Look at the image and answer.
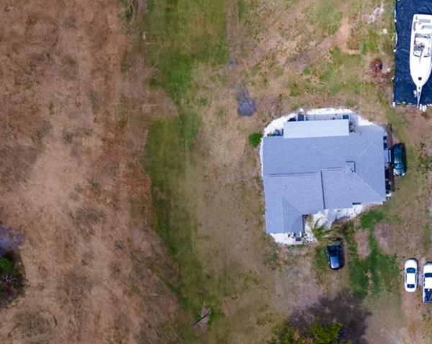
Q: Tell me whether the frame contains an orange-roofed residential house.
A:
No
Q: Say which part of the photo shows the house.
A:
right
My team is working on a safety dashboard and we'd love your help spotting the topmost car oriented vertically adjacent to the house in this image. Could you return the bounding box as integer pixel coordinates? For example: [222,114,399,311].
[392,142,407,177]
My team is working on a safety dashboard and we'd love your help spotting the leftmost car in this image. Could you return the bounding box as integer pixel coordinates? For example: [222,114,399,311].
[327,243,342,271]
